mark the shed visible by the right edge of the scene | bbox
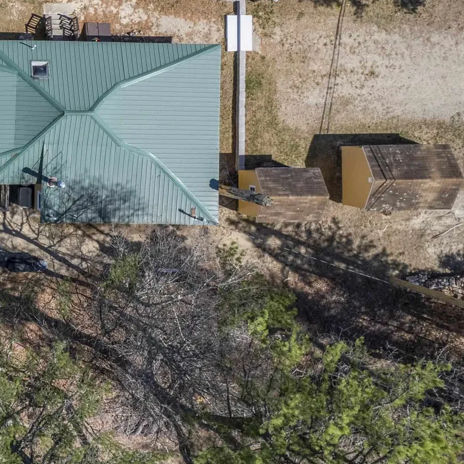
[342,144,464,210]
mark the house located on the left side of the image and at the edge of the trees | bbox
[0,40,221,228]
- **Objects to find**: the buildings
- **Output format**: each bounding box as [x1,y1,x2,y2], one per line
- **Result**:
[0,40,221,228]
[237,165,329,222]
[342,144,464,210]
